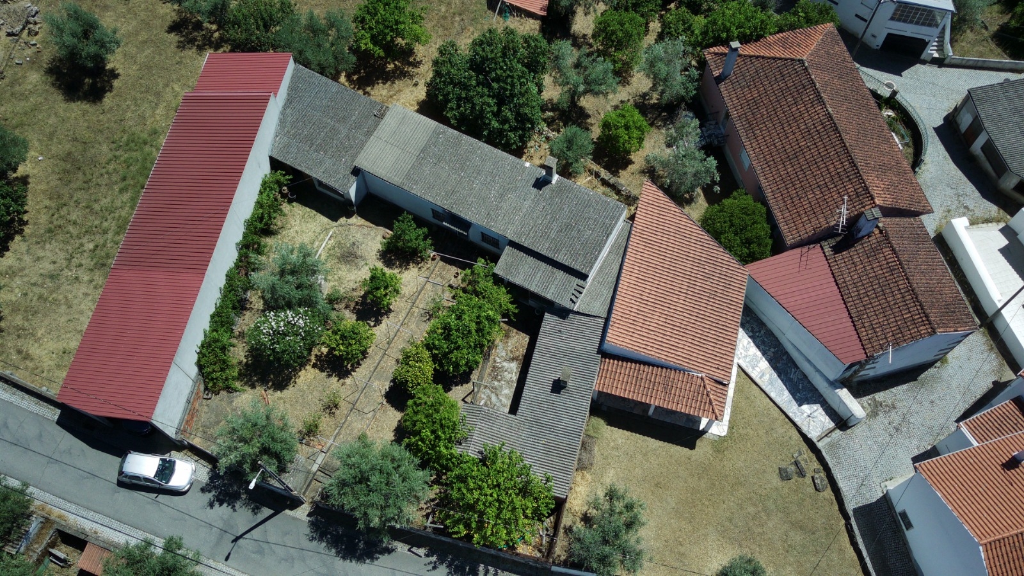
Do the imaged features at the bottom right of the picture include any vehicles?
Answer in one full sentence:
No, there's no vehicle to be seen at the bottom right of the picture.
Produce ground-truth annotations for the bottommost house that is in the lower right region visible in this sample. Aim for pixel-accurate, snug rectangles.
[885,428,1024,576]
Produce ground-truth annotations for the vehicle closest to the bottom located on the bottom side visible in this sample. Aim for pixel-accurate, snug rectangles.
[117,456,199,495]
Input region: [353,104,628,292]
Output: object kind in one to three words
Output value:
house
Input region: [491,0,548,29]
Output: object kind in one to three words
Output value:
shed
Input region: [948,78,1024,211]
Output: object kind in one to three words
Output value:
barn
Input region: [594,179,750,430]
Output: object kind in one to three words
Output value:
house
